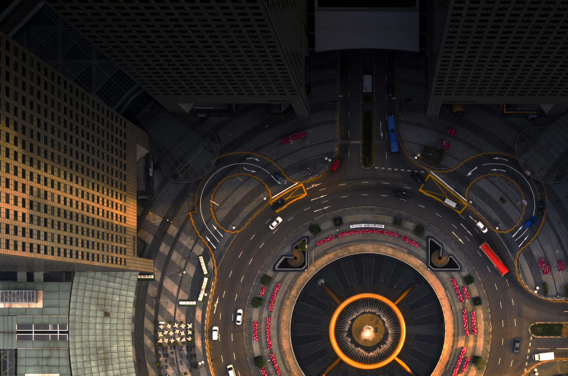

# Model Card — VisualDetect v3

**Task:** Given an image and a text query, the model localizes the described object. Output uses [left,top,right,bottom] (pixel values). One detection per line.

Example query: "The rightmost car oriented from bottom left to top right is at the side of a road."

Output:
[522,216,537,230]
